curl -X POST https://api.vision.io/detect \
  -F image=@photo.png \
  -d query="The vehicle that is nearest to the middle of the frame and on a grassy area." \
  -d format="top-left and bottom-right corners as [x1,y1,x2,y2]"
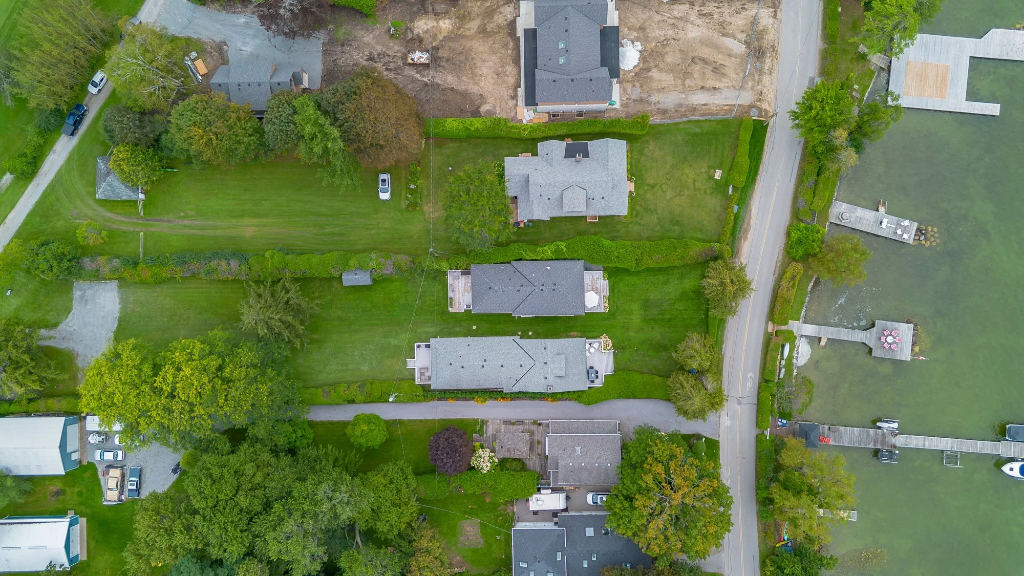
[376,171,391,201]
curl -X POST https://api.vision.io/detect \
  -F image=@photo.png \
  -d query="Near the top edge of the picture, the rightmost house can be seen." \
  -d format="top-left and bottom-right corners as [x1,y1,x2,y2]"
[517,0,620,120]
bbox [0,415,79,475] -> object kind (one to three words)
barn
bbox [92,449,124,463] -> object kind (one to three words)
car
